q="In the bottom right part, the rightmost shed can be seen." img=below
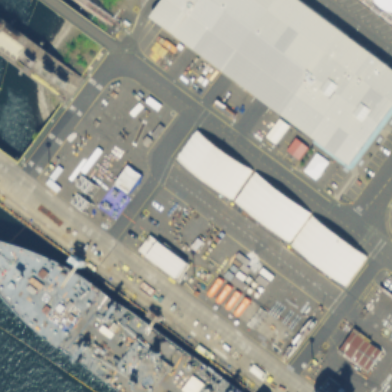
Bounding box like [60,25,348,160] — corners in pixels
[340,330,382,372]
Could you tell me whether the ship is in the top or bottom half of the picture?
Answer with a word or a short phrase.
bottom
